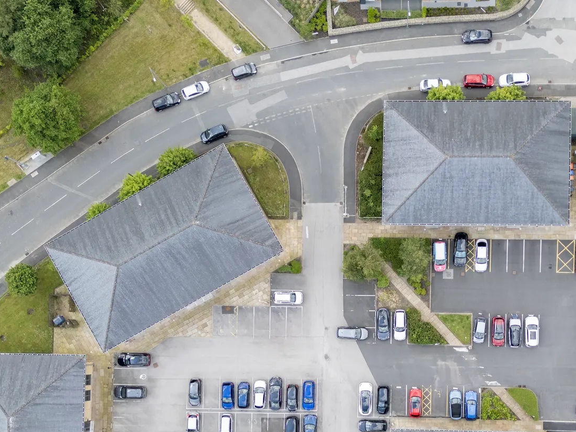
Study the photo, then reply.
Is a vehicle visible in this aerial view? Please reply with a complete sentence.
Yes, the image includes a vehicle.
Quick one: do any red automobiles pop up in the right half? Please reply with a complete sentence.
Yes, in the right half there is a red automobile.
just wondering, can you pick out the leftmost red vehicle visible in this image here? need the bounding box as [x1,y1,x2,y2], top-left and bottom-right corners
[408,388,424,418]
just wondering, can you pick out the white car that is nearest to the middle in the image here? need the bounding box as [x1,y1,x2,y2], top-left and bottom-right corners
[273,290,303,304]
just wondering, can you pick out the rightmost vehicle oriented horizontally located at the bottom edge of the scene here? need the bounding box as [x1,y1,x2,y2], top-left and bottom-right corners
[358,419,388,432]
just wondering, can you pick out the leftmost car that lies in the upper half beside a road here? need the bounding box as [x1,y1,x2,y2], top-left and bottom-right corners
[151,93,181,112]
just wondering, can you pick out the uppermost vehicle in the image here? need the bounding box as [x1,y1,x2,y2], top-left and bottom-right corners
[461,28,493,44]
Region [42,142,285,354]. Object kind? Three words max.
building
